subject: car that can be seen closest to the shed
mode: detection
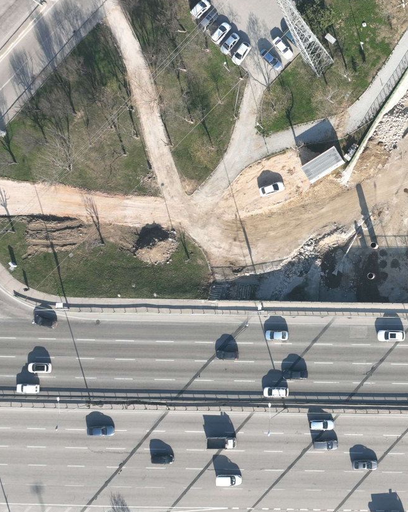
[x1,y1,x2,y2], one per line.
[258,180,284,196]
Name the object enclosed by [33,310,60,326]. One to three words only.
car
